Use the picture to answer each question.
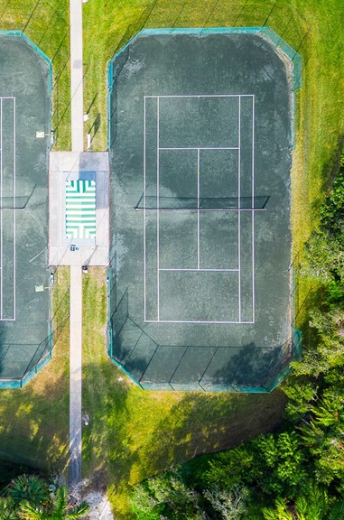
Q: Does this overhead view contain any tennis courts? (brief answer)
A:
Yes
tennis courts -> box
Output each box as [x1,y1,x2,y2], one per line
[0,36,50,380]
[104,33,292,385]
